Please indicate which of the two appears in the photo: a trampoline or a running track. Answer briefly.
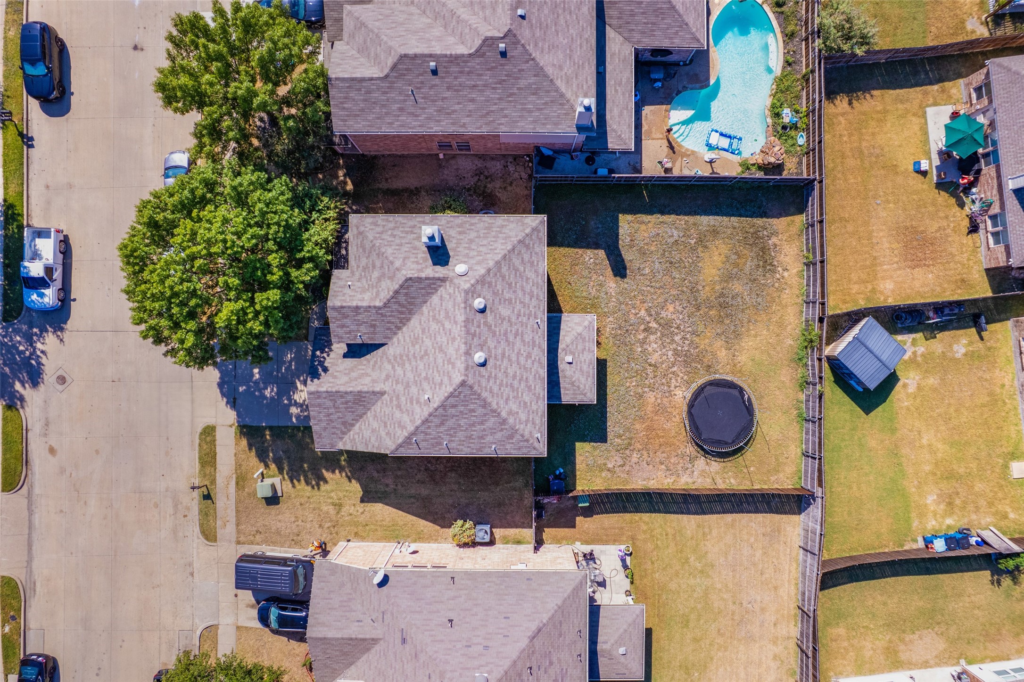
trampoline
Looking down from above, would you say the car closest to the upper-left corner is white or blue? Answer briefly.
blue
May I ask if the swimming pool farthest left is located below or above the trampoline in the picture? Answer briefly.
above it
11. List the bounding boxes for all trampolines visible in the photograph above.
[683,377,765,451]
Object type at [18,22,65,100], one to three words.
car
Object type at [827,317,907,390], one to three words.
shed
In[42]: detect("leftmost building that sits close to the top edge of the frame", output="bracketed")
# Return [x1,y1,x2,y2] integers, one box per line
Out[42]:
[319,0,708,161]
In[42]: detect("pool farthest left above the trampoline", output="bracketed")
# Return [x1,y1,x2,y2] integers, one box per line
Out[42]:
[663,0,783,162]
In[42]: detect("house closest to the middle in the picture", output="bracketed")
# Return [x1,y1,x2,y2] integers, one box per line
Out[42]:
[306,213,598,458]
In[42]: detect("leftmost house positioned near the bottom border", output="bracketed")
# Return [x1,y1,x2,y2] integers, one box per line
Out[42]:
[306,536,647,682]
